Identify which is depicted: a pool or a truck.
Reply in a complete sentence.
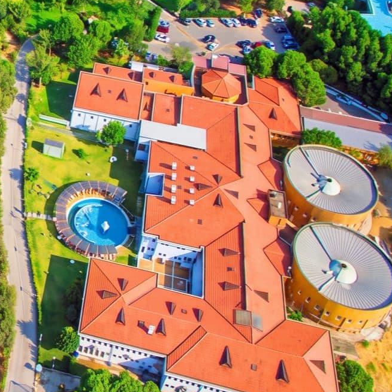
The one in the frame is a pool.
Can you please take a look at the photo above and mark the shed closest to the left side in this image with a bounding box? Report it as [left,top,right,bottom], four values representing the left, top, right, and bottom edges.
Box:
[42,138,65,165]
